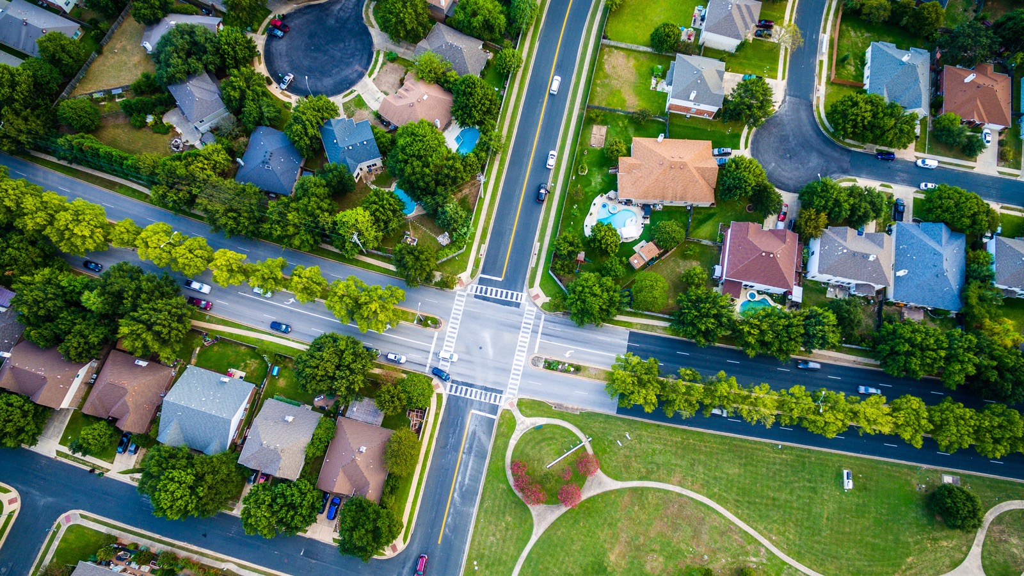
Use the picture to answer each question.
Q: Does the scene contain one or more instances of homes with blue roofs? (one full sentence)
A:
Yes, a home with a blue roof appears in the view.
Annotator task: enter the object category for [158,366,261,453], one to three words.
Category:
house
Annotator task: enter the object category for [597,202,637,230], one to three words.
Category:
swimming pool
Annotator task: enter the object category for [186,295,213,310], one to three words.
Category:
vehicle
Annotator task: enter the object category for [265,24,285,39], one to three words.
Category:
car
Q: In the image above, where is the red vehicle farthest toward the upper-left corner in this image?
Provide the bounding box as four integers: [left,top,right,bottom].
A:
[268,17,291,32]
